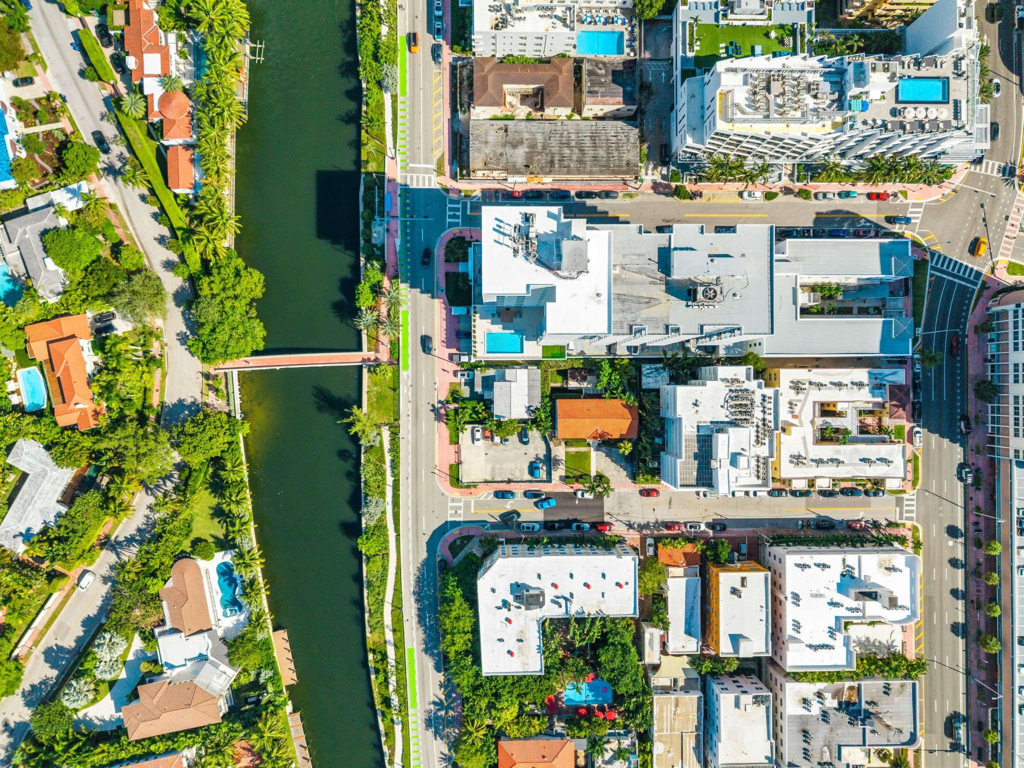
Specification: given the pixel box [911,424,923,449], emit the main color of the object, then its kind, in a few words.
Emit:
white vehicle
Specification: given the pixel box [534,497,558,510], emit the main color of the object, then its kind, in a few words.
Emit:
blue vehicle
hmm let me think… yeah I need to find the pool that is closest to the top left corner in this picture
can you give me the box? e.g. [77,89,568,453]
[192,41,208,82]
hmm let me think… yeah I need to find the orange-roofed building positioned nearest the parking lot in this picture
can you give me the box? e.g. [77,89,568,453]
[556,399,639,444]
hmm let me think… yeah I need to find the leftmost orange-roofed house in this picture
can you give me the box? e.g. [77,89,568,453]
[28,314,112,431]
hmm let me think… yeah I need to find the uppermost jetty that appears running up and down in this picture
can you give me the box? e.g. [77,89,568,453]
[273,626,301,685]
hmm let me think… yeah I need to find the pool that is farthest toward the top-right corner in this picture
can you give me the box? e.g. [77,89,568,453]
[897,78,950,103]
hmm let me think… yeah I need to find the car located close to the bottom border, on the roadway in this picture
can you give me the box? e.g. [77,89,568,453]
[949,716,961,738]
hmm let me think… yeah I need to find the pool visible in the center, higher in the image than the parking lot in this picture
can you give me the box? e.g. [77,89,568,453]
[485,331,525,355]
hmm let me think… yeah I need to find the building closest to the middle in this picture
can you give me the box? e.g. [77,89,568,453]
[474,367,541,419]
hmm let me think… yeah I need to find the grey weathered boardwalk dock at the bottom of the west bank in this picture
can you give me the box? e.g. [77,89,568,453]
[288,707,313,768]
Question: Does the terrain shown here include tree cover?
Yes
